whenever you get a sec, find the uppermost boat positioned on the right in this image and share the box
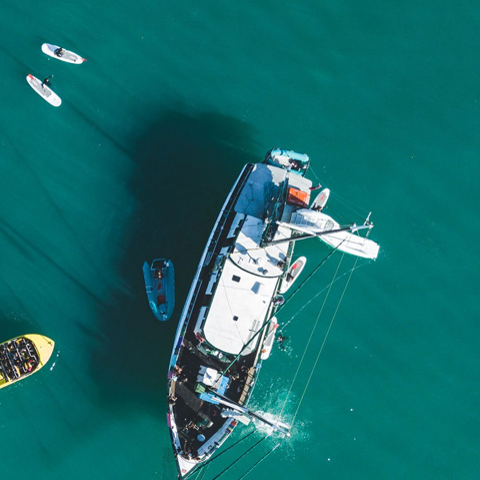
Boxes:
[268,149,316,179]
